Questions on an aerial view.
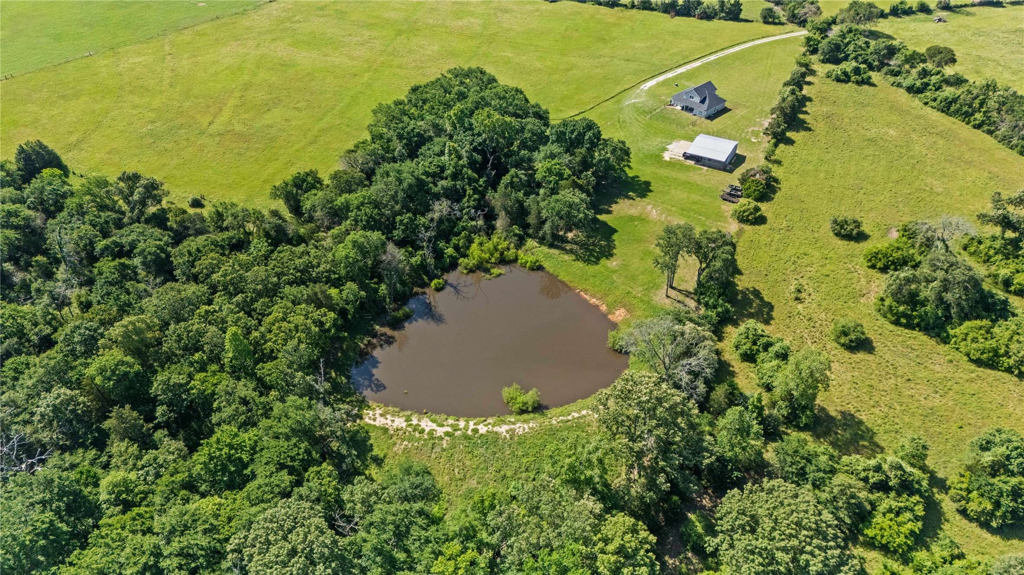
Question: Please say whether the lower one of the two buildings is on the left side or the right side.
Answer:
right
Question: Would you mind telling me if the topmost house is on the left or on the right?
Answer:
right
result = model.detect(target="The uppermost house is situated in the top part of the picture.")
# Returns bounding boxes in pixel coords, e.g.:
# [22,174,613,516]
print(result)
[670,82,729,118]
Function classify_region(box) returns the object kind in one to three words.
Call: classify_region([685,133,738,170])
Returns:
building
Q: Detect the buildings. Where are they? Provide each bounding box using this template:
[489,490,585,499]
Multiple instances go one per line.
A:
[685,133,738,170]
[670,82,729,118]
